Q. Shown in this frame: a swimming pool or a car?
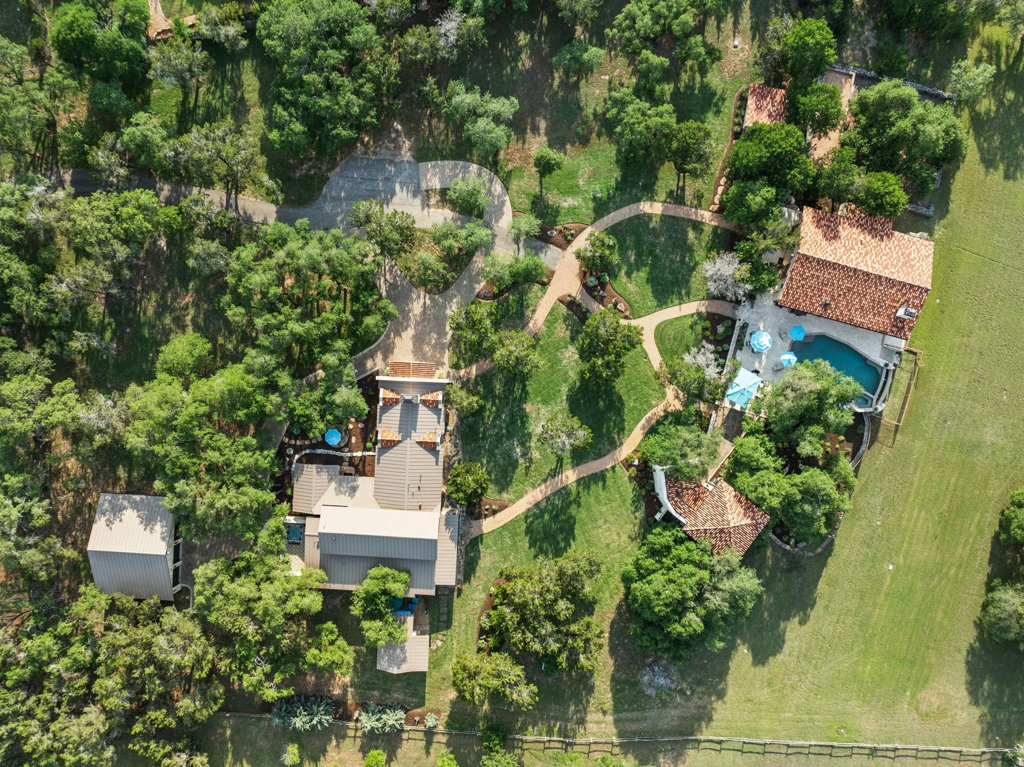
swimming pool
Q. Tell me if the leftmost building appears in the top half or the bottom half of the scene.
bottom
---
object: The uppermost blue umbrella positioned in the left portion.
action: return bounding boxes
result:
[325,429,341,445]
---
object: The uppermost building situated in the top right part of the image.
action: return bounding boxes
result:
[737,83,789,135]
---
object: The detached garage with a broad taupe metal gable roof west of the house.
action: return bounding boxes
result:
[86,493,194,601]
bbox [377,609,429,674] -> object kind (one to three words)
shed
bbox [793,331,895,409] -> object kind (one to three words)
swimming pool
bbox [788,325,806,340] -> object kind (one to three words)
umbrella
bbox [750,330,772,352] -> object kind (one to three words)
umbrella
